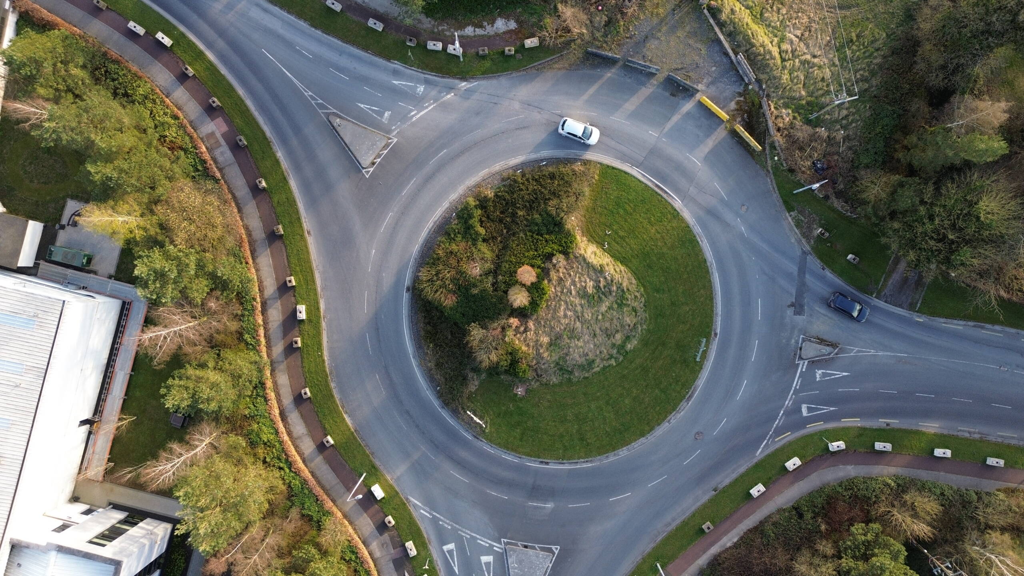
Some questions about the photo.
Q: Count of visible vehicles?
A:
two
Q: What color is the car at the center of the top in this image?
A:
white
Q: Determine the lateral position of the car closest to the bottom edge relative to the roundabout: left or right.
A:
on its right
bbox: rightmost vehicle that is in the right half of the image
[824,290,870,323]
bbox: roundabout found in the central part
[331,78,793,540]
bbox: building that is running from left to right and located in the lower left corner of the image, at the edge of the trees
[0,501,173,576]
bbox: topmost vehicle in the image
[558,117,601,145]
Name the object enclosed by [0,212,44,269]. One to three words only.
shed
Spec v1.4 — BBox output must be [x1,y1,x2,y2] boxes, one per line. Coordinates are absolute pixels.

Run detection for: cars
[558,117,601,145]
[824,290,870,323]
